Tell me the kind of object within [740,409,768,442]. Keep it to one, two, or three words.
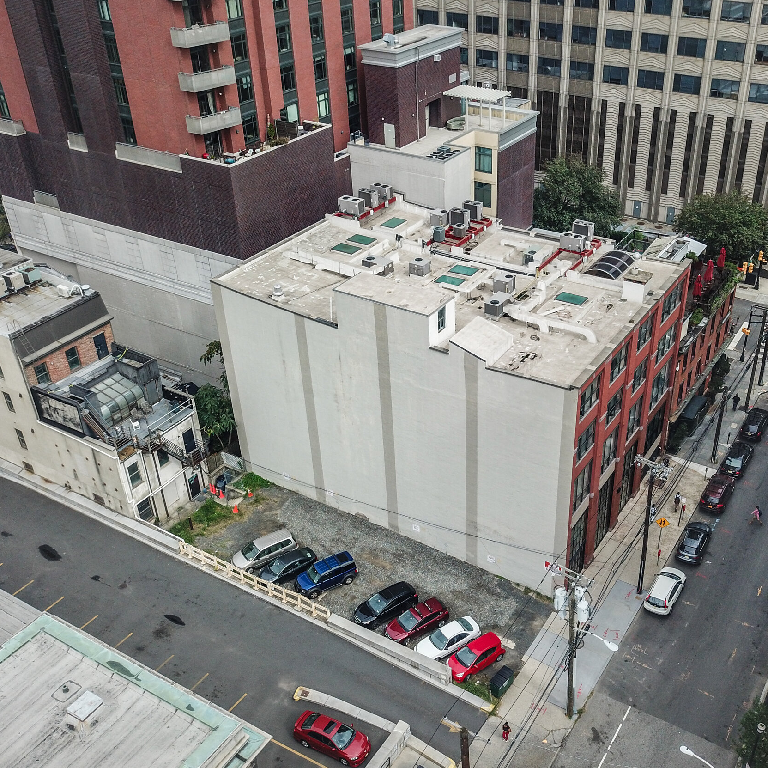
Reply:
car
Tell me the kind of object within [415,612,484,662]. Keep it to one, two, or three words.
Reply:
car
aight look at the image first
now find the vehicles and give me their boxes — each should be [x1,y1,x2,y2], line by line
[224,520,297,574]
[722,441,757,477]
[673,518,715,564]
[291,706,373,765]
[445,632,509,682]
[385,594,453,646]
[699,474,739,513]
[740,409,768,442]
[643,563,690,615]
[294,547,359,599]
[415,612,484,662]
[255,537,320,583]
[350,579,417,628]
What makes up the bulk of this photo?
buildings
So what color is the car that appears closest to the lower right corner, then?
white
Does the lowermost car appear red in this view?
Yes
